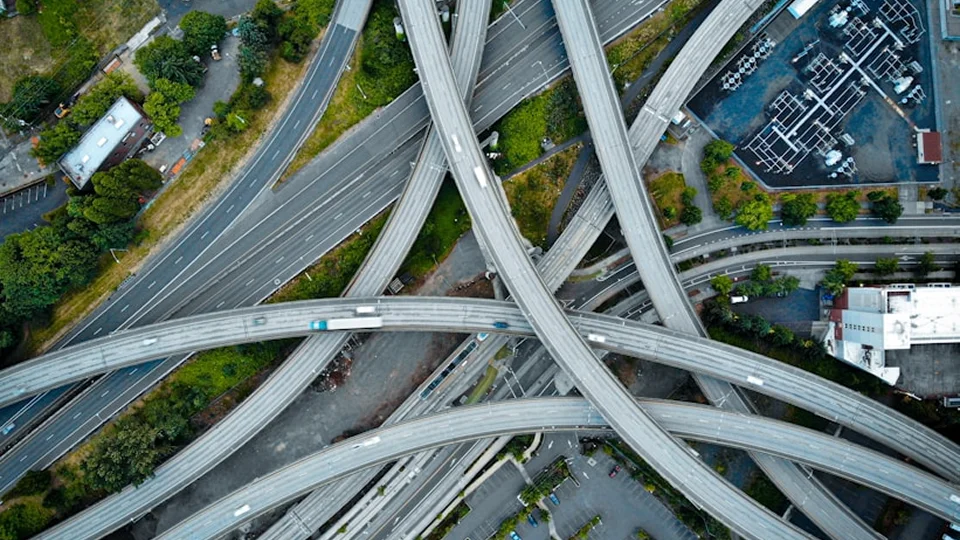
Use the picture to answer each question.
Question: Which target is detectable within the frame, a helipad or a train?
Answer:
train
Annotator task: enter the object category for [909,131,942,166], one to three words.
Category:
shed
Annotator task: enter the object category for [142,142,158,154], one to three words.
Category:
vehicle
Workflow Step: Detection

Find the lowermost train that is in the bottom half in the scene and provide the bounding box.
[418,338,480,398]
